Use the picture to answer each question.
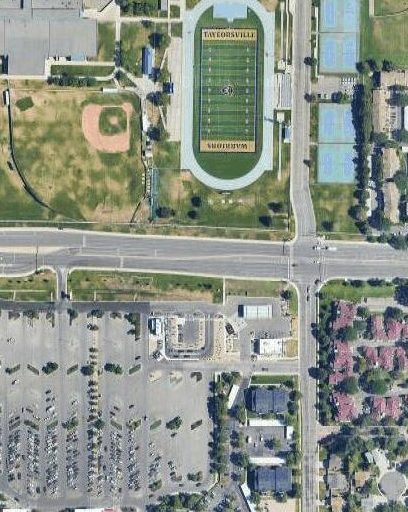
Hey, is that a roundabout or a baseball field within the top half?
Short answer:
baseball field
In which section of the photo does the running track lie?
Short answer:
top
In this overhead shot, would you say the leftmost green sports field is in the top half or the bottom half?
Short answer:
top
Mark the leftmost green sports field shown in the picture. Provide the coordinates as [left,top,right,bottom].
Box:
[193,0,264,180]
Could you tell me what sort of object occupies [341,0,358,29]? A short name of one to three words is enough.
tennis court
